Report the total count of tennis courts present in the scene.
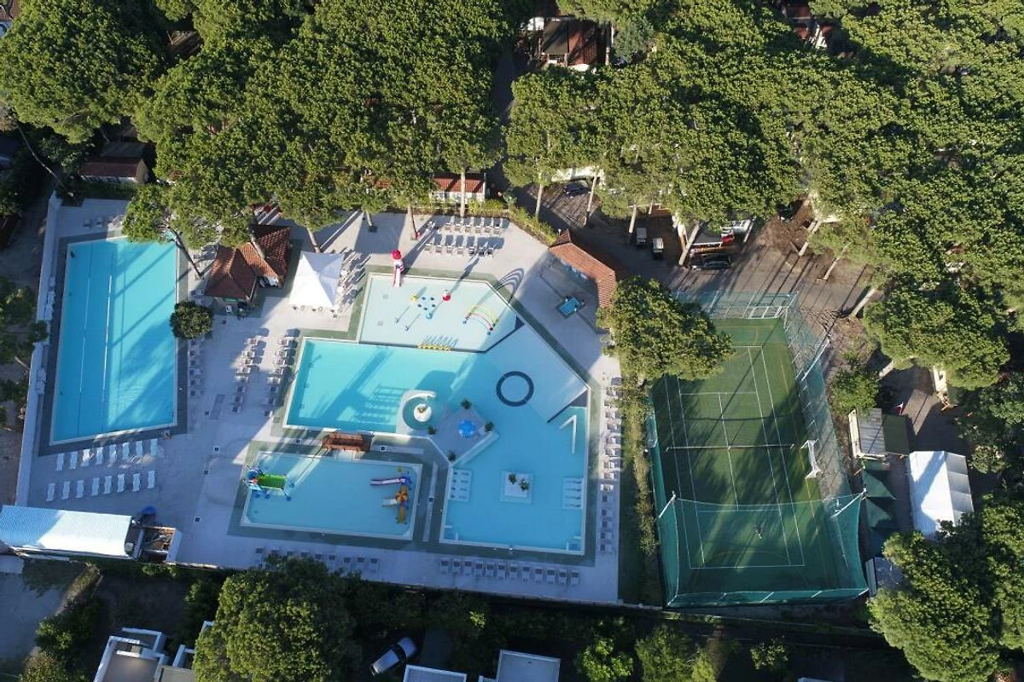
one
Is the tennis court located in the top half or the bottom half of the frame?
bottom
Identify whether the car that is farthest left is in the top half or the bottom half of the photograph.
bottom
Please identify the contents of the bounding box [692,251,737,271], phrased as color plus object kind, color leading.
black car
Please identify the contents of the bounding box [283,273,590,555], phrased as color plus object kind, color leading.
blue swimming pool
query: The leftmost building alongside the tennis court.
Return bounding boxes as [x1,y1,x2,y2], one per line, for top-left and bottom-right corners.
[549,228,635,319]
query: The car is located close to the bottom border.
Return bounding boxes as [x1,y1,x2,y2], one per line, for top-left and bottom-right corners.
[367,636,418,678]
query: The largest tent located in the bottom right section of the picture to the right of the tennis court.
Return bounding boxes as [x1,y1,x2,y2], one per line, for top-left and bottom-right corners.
[898,452,977,546]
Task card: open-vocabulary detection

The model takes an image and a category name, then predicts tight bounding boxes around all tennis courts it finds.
[646,319,841,600]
